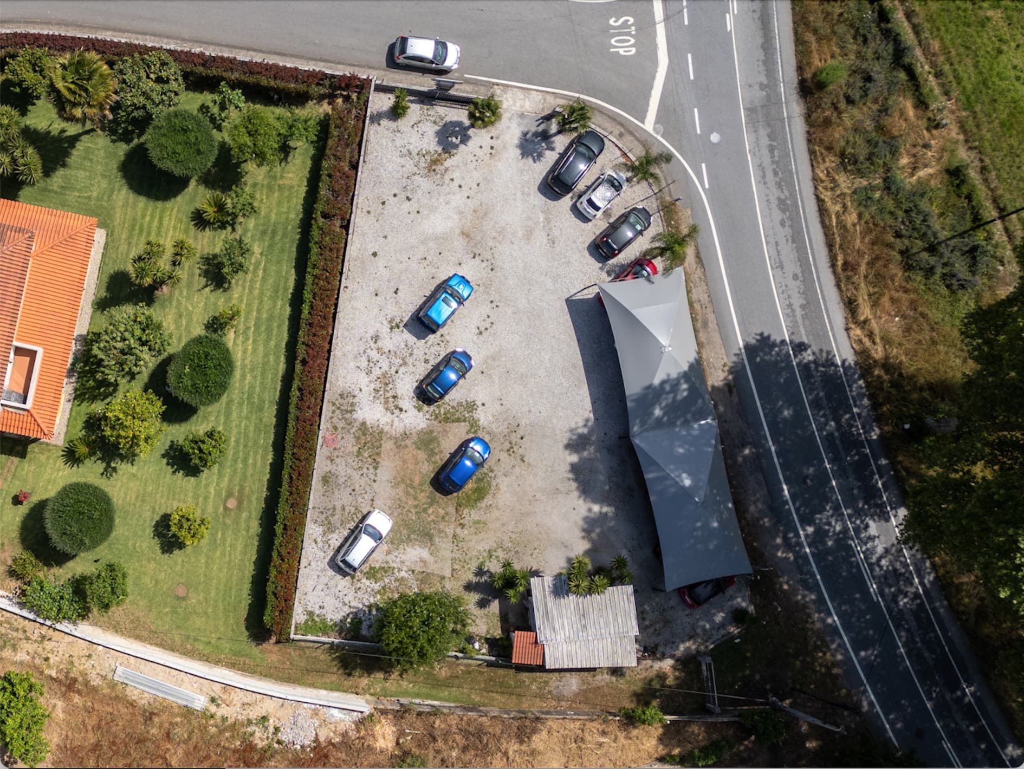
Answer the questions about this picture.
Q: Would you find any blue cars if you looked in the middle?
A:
Yes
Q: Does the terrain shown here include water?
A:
No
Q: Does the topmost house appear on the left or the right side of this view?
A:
left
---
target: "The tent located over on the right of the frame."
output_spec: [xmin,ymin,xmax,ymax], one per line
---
[577,260,753,600]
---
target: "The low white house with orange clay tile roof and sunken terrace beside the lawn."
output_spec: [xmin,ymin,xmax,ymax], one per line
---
[0,196,100,441]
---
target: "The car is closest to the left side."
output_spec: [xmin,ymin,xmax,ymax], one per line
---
[332,504,396,578]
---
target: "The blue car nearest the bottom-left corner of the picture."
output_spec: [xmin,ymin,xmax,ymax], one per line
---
[439,434,492,497]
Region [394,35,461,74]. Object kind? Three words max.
car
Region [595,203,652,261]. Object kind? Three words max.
car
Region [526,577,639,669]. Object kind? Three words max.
shed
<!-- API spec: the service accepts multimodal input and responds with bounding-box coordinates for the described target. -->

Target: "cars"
[419,345,478,406]
[595,203,652,261]
[546,128,606,199]
[577,168,626,219]
[332,504,396,578]
[609,259,654,284]
[417,271,478,336]
[678,574,737,608]
[439,434,492,497]
[394,35,461,74]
